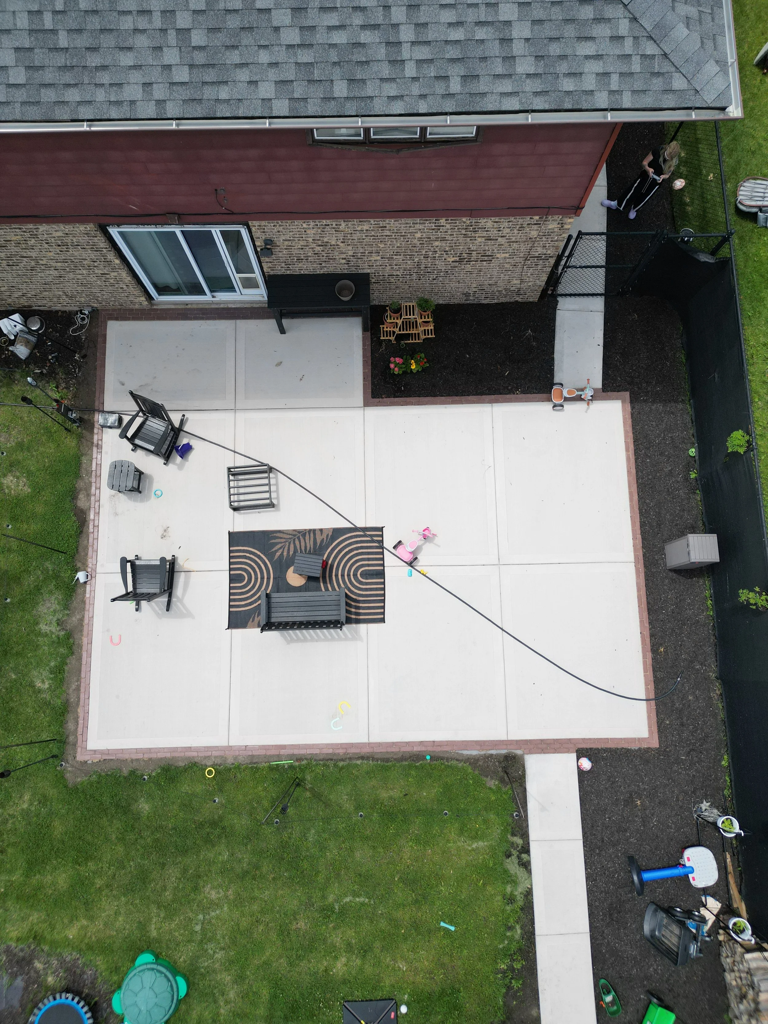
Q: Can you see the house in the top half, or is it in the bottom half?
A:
top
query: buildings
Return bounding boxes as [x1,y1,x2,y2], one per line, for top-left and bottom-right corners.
[0,0,745,314]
